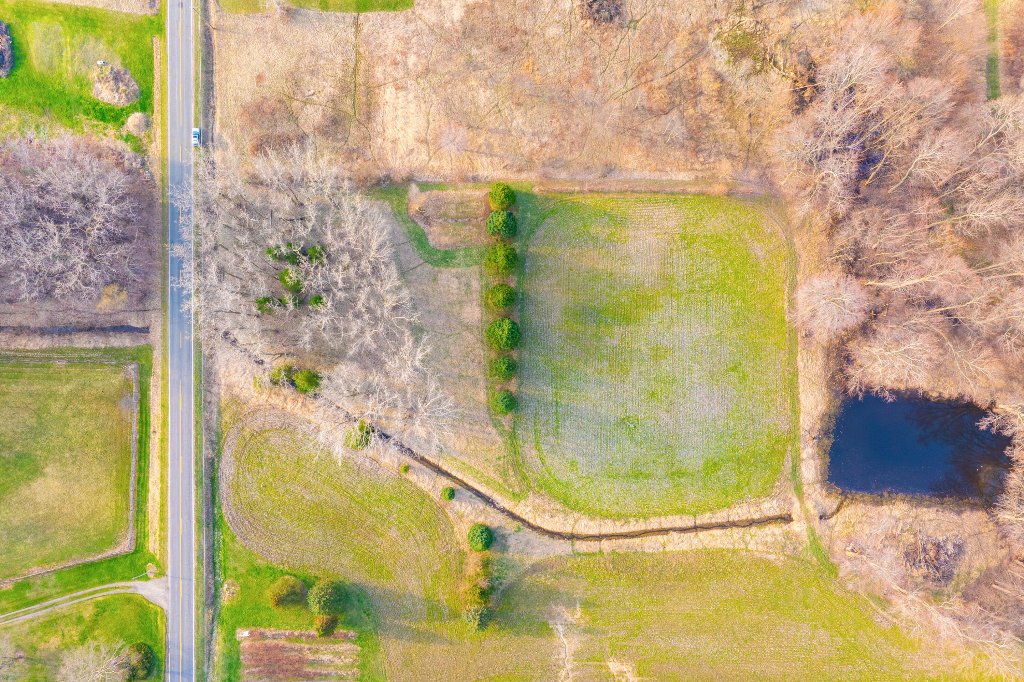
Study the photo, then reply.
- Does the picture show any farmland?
Yes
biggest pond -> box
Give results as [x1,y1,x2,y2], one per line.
[826,389,1022,504]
